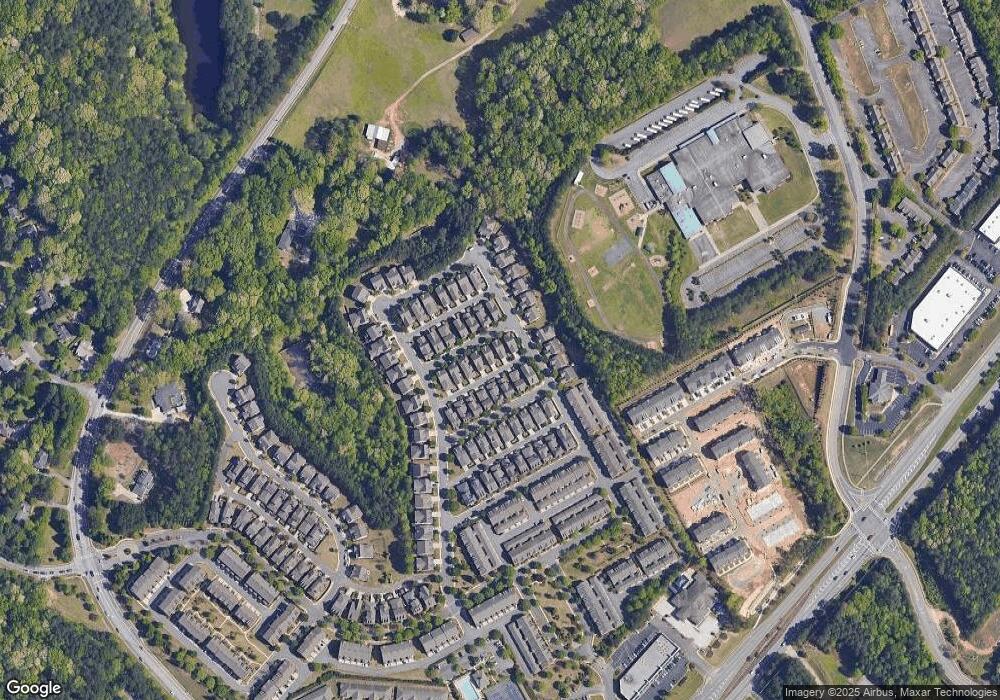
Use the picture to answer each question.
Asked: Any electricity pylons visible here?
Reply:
No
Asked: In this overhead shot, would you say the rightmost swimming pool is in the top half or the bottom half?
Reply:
bottom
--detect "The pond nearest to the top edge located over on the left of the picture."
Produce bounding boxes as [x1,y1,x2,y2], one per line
[171,0,226,121]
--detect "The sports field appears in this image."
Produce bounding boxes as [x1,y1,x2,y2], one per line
[564,189,666,346]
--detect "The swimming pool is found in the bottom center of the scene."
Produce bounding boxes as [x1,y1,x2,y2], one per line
[452,672,484,700]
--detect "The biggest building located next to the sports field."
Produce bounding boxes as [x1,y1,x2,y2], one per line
[646,114,791,238]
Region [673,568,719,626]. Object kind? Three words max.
building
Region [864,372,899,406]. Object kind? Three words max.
building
